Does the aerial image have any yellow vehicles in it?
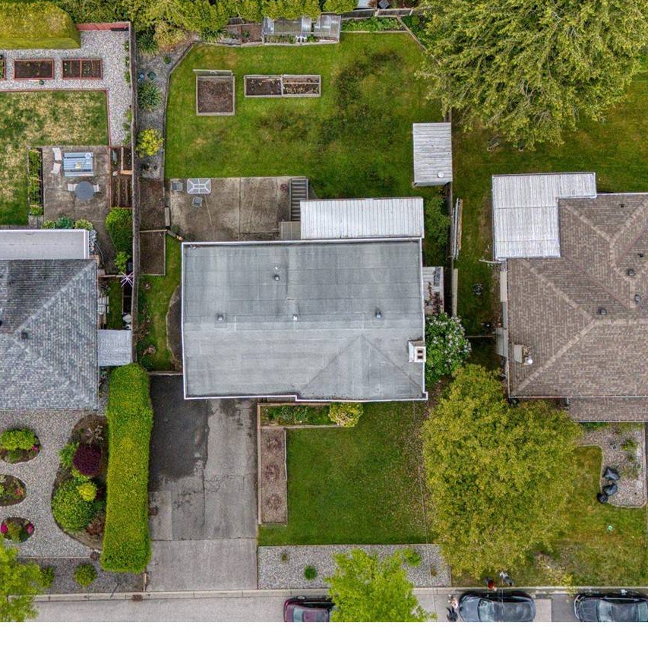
No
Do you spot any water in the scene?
No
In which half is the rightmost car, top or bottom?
bottom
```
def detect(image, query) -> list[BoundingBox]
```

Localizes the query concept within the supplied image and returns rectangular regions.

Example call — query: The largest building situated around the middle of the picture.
[183,240,430,404]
